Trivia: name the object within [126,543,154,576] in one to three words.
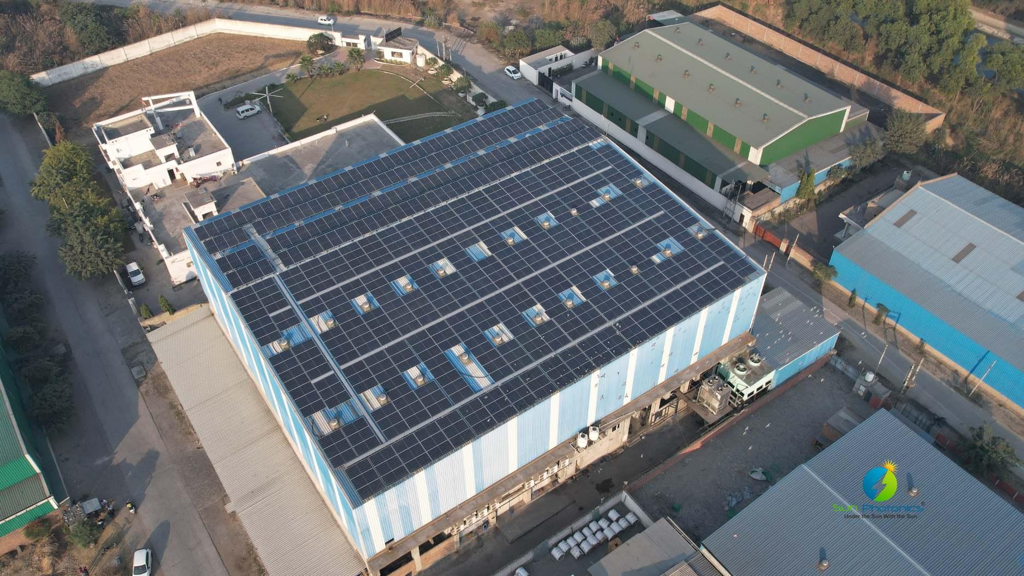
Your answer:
car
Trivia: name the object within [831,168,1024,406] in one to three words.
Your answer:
shed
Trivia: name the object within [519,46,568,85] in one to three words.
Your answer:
house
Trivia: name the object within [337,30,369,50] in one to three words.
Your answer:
building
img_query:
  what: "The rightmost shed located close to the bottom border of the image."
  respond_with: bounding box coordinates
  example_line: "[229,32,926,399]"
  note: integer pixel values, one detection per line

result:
[698,411,1024,576]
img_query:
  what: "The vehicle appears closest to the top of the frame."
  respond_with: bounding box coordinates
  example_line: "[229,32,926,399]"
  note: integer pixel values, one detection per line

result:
[315,14,336,27]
